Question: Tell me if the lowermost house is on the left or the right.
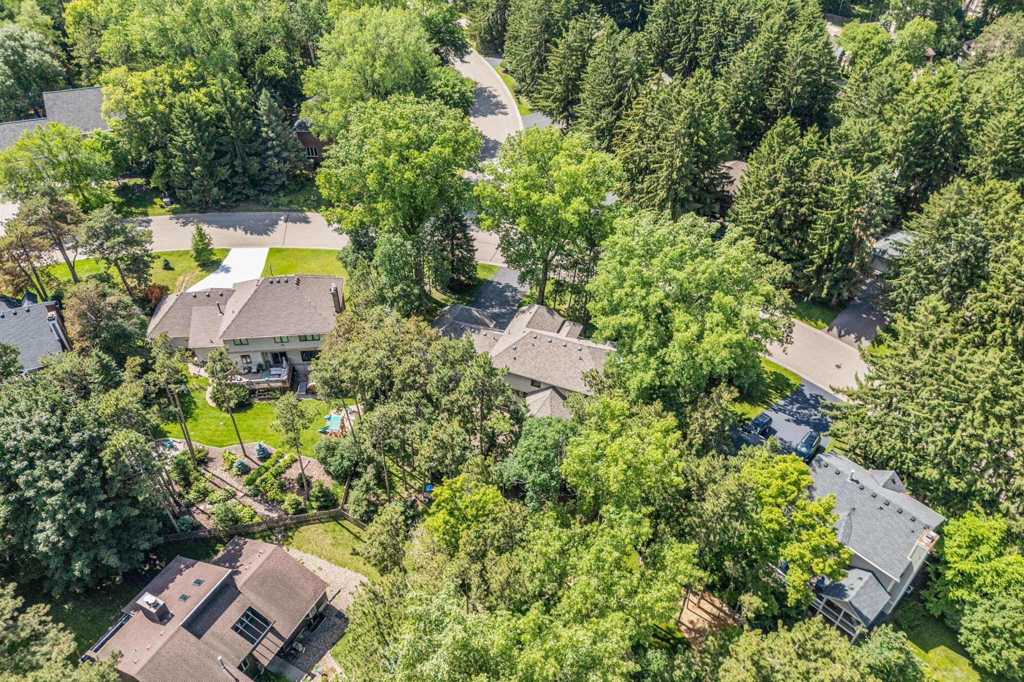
left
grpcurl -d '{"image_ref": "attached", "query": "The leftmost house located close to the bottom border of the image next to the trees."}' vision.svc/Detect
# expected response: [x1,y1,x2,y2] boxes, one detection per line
[71,536,329,682]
